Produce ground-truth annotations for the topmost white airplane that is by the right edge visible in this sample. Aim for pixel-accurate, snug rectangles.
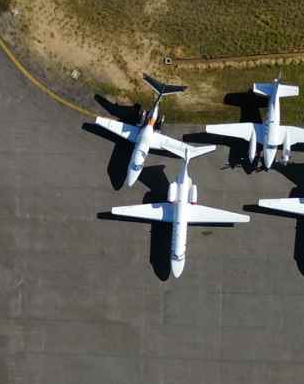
[206,72,304,168]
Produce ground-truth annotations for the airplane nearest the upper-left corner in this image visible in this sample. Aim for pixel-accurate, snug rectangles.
[94,73,198,186]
